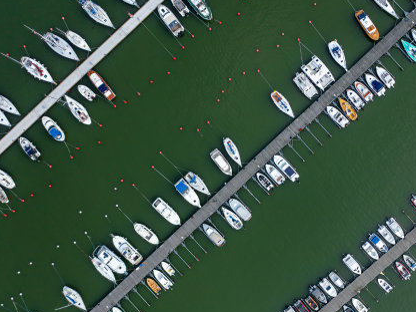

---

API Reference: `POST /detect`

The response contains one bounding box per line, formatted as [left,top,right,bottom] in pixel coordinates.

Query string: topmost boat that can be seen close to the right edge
[374,0,405,25]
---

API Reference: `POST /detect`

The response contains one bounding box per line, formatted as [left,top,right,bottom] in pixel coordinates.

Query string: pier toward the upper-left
[0,0,167,157]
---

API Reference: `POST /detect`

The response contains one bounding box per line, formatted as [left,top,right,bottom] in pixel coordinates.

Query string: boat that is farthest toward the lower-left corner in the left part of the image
[55,286,93,310]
